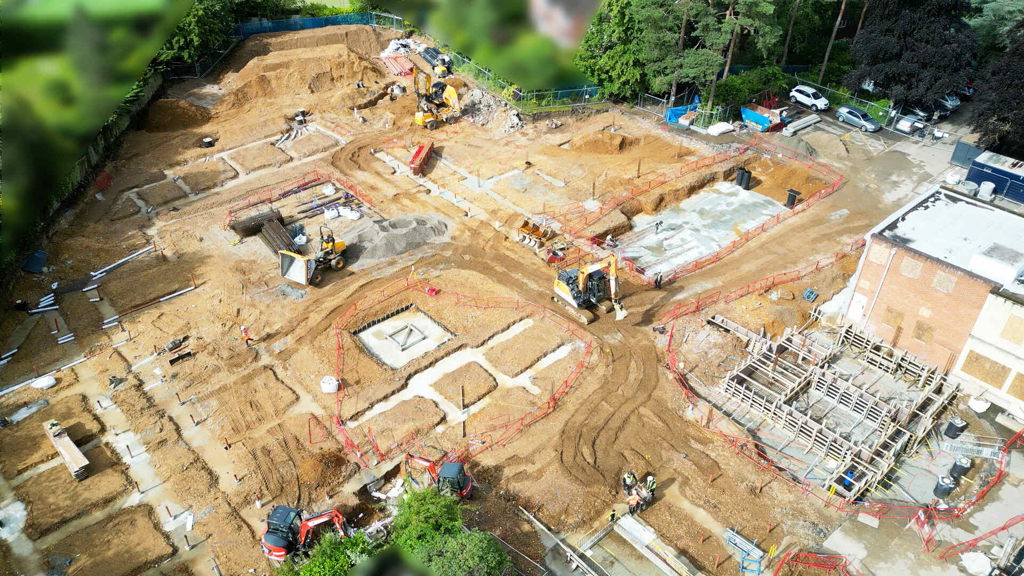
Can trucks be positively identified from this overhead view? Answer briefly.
Yes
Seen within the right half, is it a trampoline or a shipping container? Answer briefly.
shipping container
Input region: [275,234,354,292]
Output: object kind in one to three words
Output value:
truck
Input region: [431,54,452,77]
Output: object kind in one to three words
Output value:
truck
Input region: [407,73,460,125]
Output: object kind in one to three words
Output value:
work vehicle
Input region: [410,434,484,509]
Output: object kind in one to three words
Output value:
work vehicle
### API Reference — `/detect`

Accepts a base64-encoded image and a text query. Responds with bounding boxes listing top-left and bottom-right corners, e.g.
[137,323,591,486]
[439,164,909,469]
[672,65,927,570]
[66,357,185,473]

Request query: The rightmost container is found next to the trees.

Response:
[953,125,1018,171]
